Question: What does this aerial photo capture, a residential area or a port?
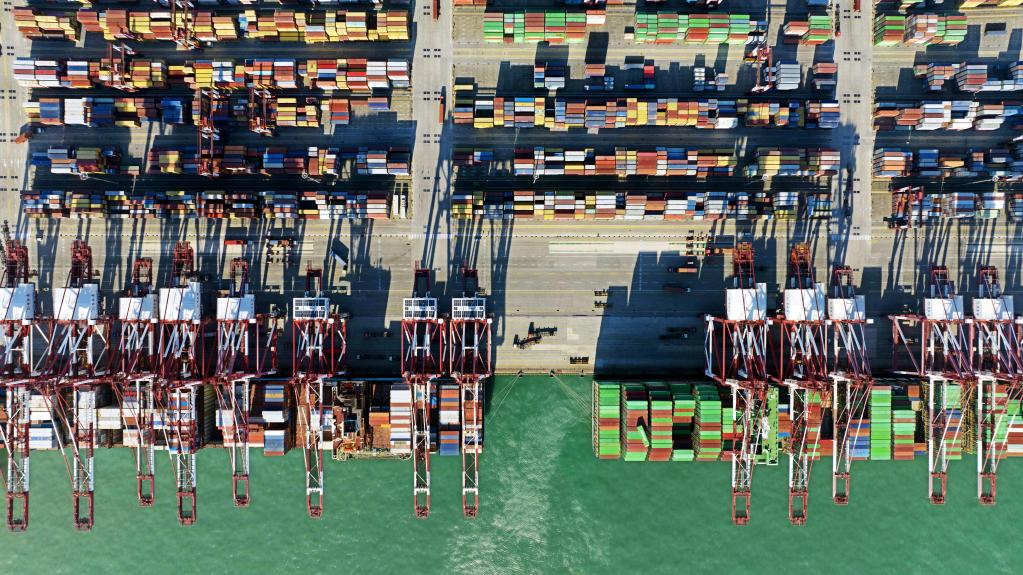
port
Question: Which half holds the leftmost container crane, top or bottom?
bottom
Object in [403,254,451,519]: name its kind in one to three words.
container crane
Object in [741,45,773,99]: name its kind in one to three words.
crane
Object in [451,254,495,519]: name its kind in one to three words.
container crane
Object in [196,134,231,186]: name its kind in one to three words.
crane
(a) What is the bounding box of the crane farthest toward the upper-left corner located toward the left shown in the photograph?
[106,45,146,99]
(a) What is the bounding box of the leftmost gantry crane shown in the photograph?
[0,241,87,529]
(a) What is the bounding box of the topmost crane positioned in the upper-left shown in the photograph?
[171,0,207,55]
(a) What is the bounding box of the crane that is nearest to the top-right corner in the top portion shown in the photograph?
[877,184,916,229]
